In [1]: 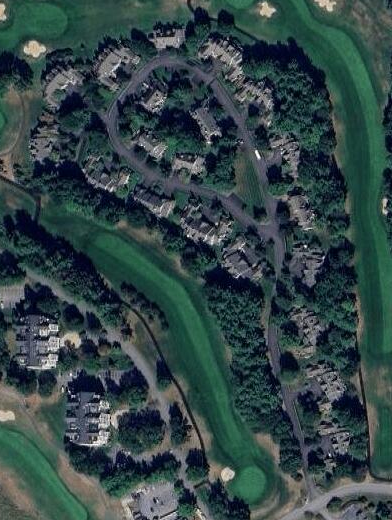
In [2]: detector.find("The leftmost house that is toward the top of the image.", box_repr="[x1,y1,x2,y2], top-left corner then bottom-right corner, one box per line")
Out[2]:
[31,110,60,163]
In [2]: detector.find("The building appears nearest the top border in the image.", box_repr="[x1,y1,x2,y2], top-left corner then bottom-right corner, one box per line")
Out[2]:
[148,25,187,52]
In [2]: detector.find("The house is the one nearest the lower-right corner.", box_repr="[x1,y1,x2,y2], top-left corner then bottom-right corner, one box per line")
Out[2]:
[316,422,354,464]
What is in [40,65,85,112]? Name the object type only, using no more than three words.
house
